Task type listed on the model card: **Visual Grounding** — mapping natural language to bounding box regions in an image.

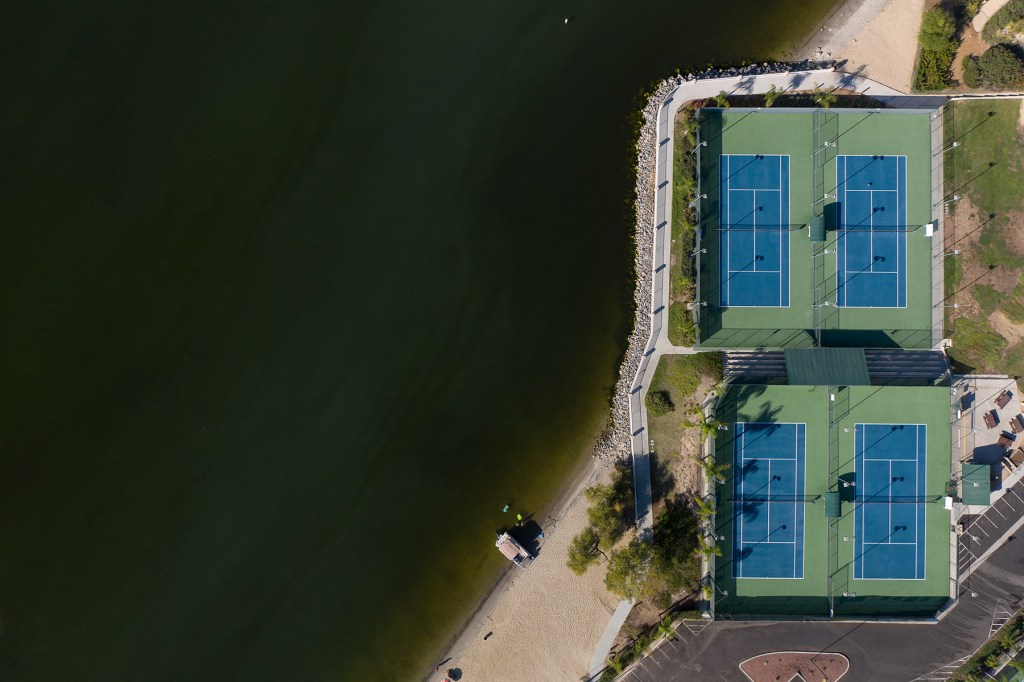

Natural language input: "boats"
[496,532,534,568]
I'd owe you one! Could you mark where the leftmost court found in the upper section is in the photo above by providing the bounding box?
[695,114,813,347]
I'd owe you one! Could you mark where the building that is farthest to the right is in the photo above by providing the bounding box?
[953,462,990,505]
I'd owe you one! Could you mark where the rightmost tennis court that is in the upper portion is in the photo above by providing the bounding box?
[813,114,931,347]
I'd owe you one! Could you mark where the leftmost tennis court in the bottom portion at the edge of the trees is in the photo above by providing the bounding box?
[710,384,829,615]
